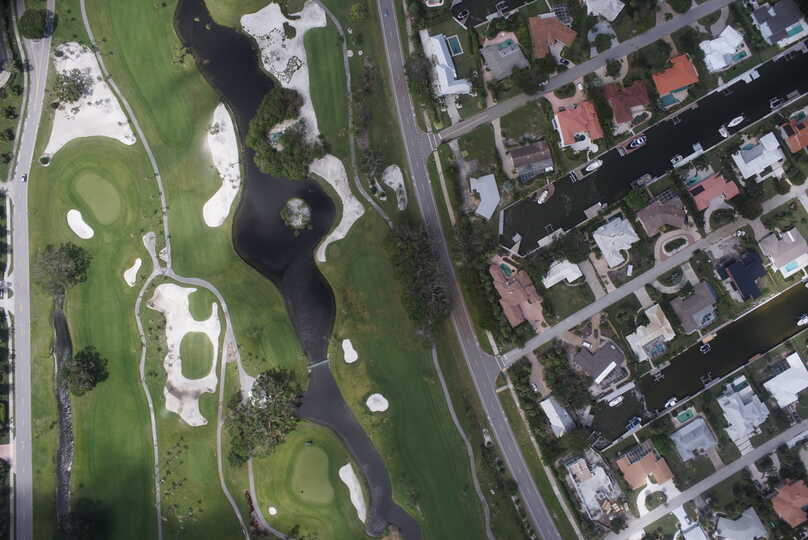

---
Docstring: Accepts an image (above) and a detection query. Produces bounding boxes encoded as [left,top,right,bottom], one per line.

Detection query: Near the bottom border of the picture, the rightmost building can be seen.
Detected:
[770,478,808,529]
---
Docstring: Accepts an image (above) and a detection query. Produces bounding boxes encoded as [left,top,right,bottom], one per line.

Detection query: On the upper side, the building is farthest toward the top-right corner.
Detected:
[751,0,802,45]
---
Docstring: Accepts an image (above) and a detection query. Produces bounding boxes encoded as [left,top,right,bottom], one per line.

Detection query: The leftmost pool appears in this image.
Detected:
[448,35,463,55]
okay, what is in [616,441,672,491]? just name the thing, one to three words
house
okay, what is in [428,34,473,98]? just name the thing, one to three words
house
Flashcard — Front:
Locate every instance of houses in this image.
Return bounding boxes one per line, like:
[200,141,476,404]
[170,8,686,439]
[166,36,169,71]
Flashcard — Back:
[669,280,716,335]
[584,0,625,24]
[574,337,621,383]
[718,392,770,442]
[489,267,543,328]
[554,99,605,147]
[539,396,574,437]
[470,174,500,219]
[780,109,808,153]
[595,214,638,268]
[717,250,766,302]
[625,305,676,363]
[715,506,768,540]
[599,79,651,126]
[636,189,688,234]
[764,352,808,401]
[671,419,716,460]
[760,227,808,272]
[541,261,583,289]
[616,441,672,491]
[682,525,705,540]
[751,0,802,45]
[689,173,738,208]
[481,41,532,86]
[770,478,808,529]
[699,24,743,71]
[529,0,577,60]
[650,54,699,115]
[731,130,785,178]
[428,34,473,98]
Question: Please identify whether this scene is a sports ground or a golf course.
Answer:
golf course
